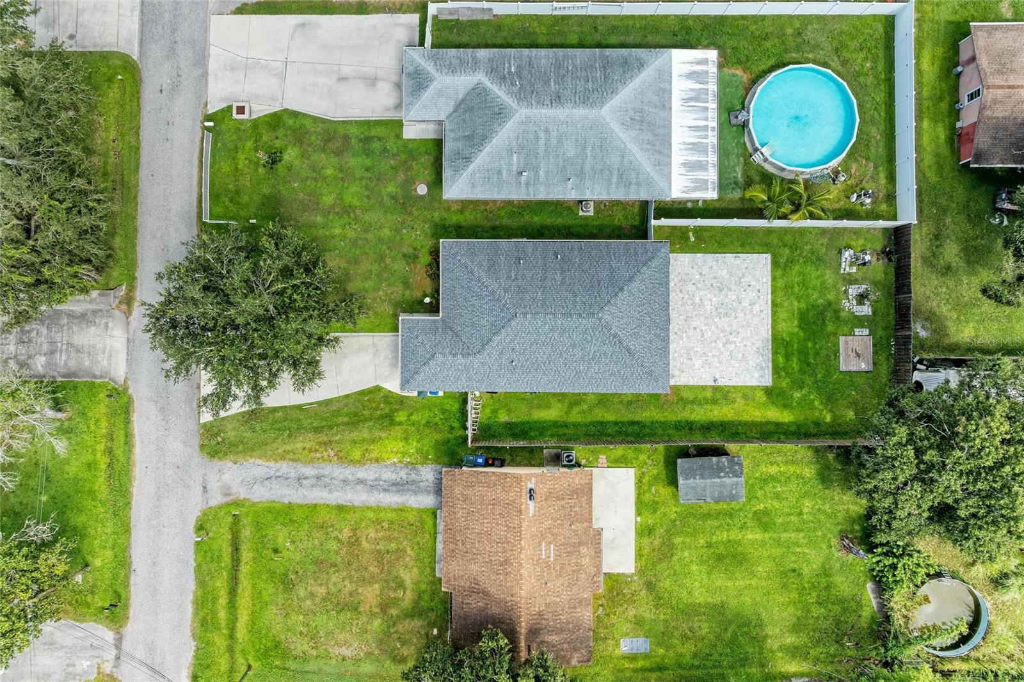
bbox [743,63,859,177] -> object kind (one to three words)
swimming pool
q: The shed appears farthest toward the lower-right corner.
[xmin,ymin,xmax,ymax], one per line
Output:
[674,453,746,503]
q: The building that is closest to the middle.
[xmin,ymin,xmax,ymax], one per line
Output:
[397,239,672,394]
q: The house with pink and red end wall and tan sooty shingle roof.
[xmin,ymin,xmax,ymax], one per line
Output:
[958,22,1024,168]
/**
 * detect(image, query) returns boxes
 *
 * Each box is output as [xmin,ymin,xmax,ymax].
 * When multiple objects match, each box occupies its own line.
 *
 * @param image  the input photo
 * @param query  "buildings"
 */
[958,22,1024,168]
[397,239,672,394]
[674,453,746,503]
[442,467,605,675]
[401,47,718,206]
